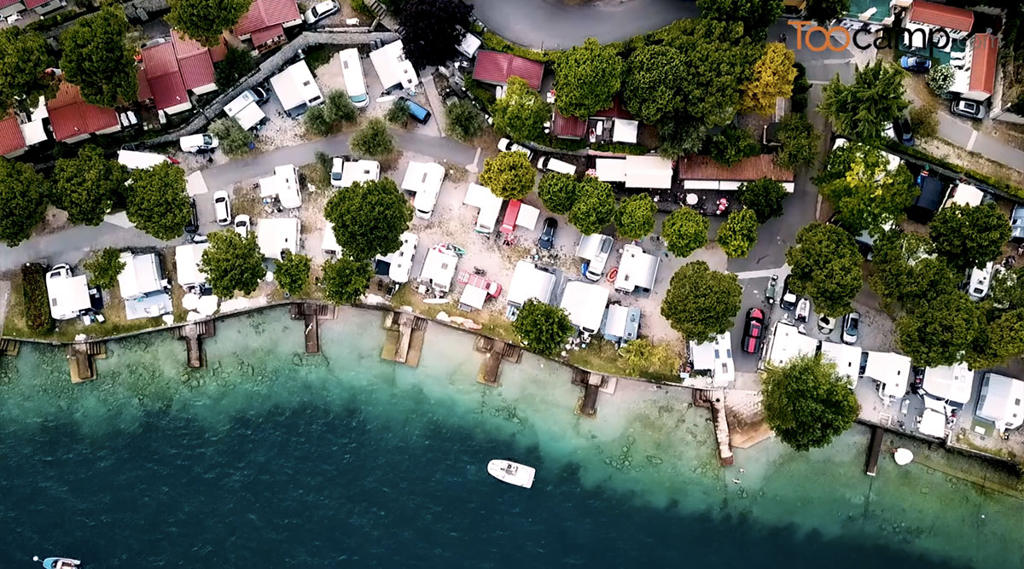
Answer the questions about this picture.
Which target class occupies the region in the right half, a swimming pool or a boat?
boat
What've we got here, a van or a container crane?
van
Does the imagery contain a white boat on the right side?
Yes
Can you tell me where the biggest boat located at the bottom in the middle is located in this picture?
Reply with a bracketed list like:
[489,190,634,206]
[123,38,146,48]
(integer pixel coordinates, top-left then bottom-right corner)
[487,460,538,490]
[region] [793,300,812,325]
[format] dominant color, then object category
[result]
white boat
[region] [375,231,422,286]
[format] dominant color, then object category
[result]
white camper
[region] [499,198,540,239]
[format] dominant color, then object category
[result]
white van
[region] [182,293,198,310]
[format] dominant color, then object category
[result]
white umbrella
